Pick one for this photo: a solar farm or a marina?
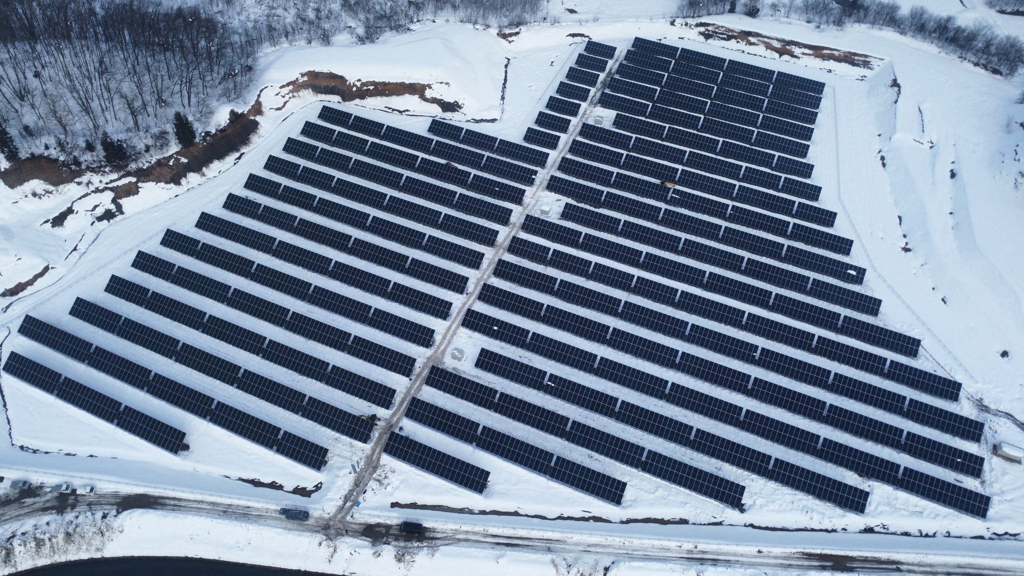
solar farm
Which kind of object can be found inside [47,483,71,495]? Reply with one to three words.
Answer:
vehicle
